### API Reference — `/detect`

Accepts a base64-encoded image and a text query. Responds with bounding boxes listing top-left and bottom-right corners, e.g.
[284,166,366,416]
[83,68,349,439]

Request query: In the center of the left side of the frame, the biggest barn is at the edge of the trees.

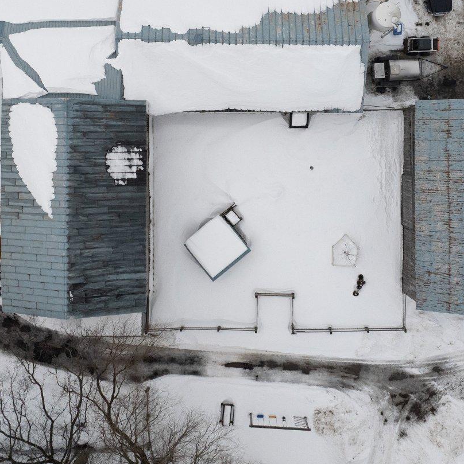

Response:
[1,98,151,320]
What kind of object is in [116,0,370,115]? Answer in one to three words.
barn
